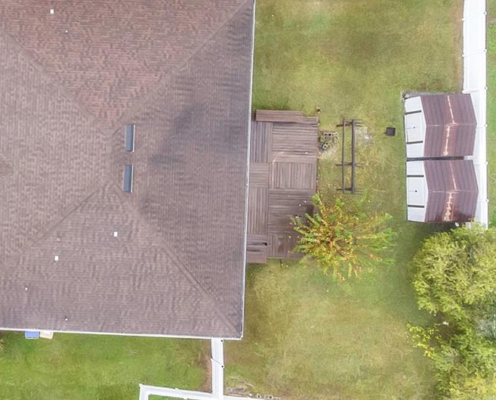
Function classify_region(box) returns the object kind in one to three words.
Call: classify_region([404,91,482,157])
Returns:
shed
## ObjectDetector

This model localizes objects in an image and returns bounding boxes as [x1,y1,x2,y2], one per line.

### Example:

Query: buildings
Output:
[405,159,483,222]
[0,0,256,341]
[404,91,482,157]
